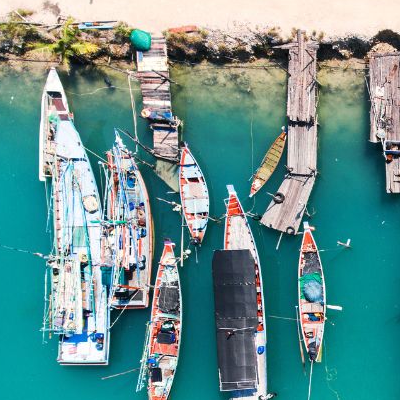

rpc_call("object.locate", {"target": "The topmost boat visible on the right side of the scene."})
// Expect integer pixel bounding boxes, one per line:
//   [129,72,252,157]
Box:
[249,126,287,197]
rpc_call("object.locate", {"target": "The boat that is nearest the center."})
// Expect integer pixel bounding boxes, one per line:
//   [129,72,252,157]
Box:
[177,144,211,258]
